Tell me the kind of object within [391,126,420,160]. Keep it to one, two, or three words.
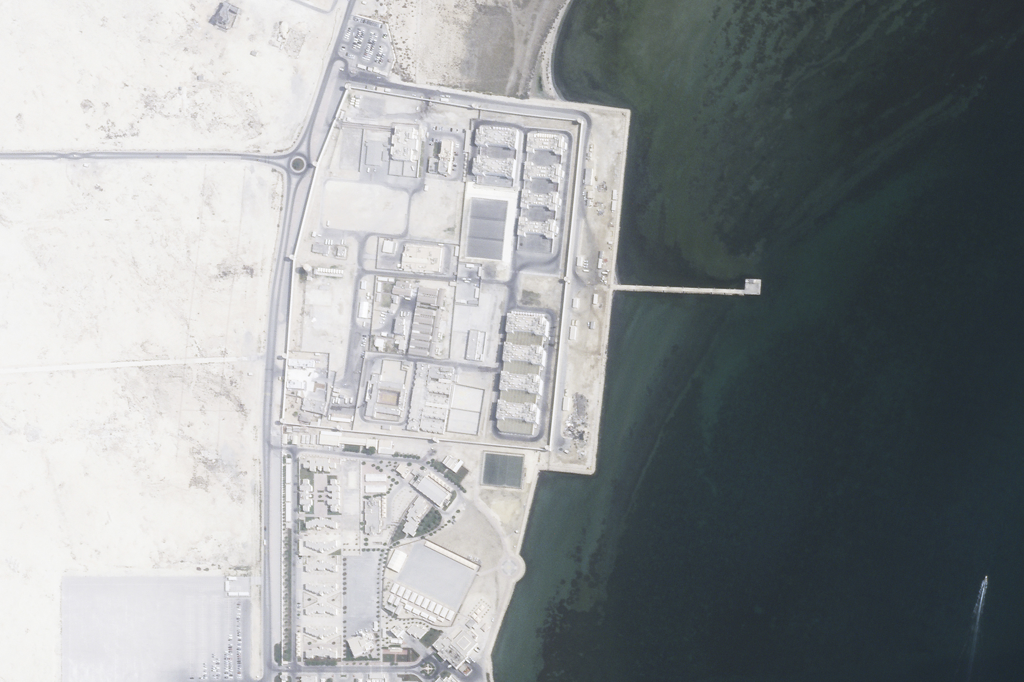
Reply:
building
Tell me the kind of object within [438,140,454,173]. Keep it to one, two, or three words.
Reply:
building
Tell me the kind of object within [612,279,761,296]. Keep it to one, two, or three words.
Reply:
pier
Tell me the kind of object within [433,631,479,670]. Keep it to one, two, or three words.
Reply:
house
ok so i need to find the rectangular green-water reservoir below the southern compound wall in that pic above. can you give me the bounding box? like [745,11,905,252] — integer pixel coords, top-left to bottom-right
[479,450,527,492]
